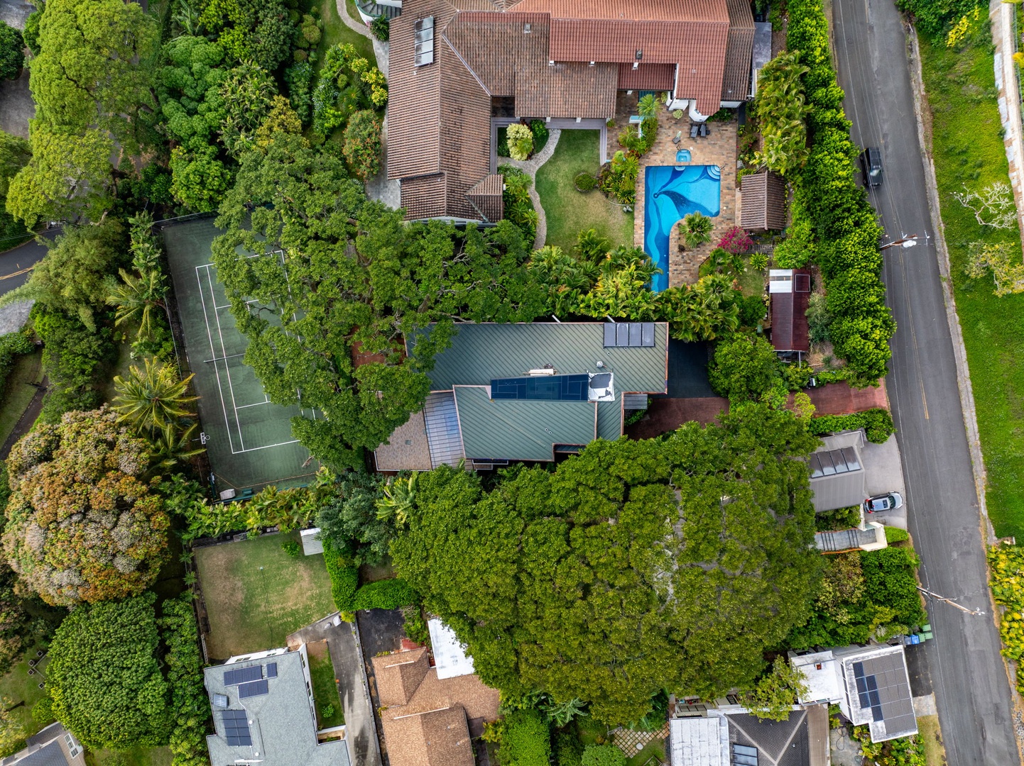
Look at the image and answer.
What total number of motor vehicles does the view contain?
2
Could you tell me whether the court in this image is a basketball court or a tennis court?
tennis court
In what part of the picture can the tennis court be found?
left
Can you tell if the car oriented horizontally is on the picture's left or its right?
right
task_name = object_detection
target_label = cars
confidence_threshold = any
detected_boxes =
[865,494,905,514]
[863,146,886,184]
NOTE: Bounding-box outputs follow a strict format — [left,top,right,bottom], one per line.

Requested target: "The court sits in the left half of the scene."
[163,198,354,495]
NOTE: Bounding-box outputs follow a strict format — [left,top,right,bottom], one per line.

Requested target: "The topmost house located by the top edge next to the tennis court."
[386,0,776,224]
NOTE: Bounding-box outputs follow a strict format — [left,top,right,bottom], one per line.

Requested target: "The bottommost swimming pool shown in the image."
[641,163,722,300]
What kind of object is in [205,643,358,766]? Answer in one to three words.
house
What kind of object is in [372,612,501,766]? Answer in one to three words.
house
